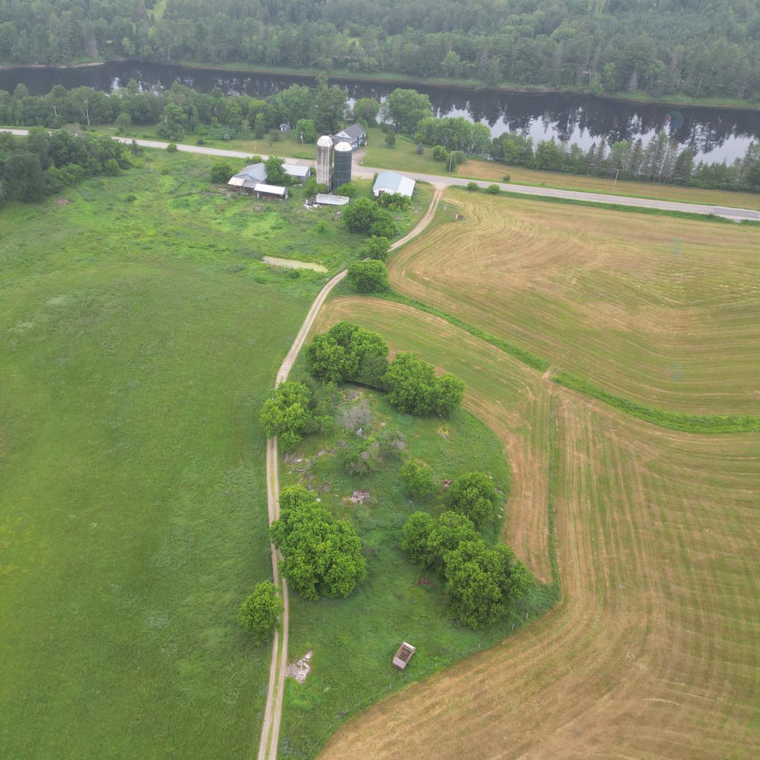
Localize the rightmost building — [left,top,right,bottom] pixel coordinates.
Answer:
[373,171,414,200]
